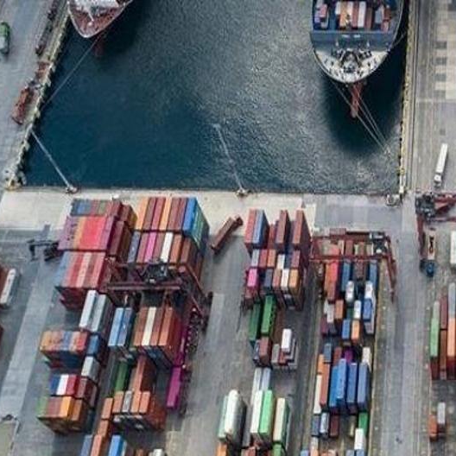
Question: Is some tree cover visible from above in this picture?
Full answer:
No, the scene doesn't show any tree cover.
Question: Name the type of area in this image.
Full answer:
The picture captures a port.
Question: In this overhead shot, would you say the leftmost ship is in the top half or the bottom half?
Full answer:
The top half of the photo is where the leftmost ship is.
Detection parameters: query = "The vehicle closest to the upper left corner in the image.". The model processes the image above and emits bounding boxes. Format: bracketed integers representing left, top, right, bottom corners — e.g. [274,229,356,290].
[0,29,14,61]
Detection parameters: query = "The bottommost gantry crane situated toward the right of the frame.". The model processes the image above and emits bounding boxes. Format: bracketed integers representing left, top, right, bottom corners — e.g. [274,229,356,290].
[306,229,393,294]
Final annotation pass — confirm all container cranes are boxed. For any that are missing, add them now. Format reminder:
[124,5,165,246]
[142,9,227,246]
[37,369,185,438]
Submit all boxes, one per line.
[306,229,393,294]
[416,196,456,258]
[100,258,211,323]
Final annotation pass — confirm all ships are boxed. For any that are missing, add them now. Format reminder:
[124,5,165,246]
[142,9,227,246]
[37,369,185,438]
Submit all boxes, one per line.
[309,0,410,125]
[75,0,145,64]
